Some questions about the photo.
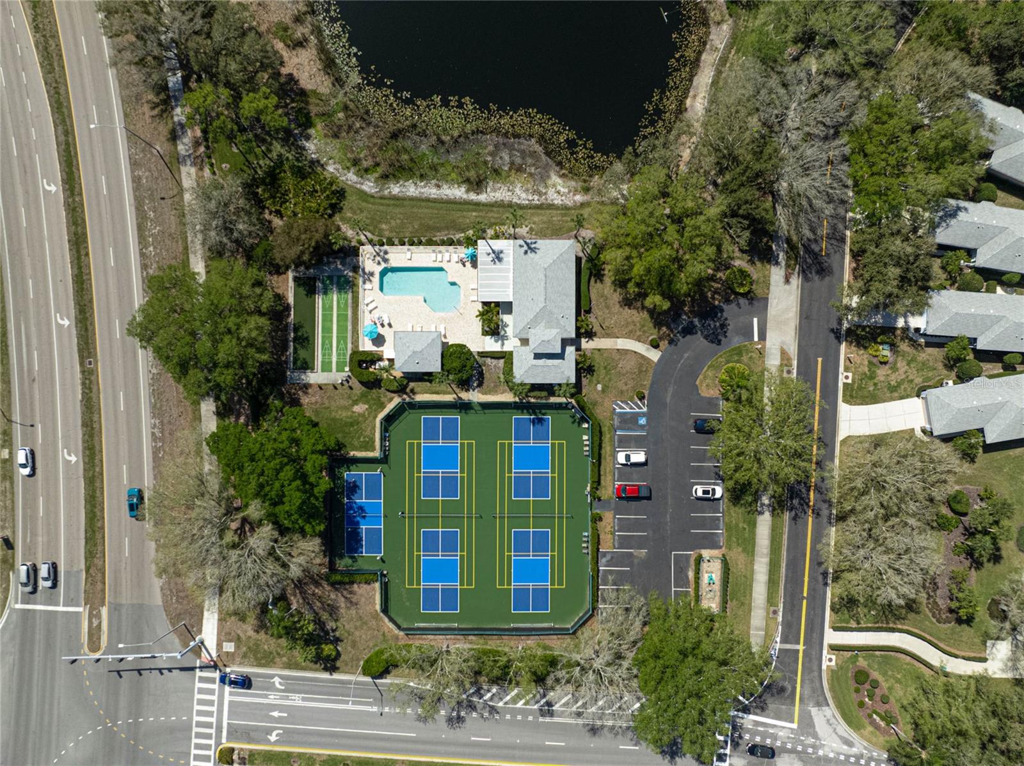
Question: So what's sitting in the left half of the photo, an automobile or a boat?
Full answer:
There is an automobile in the left half of the photo.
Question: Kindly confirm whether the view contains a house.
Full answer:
Yes, looking at the shot, I can spot a house.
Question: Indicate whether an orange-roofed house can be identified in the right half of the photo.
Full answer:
No, looking in the right half of the photo, there is no orange-roofed house.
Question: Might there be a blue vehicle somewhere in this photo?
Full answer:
Yes, you can see a blue vehicle in this photo.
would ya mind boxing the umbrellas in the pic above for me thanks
[463,247,477,262]
[363,324,378,339]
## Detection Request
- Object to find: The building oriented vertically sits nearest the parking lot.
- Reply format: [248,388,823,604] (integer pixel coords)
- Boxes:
[513,240,579,384]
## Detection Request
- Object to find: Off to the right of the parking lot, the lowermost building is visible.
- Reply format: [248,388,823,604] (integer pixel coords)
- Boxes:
[920,374,1024,440]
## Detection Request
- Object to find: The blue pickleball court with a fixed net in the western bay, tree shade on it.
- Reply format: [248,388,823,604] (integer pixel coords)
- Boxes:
[342,473,384,555]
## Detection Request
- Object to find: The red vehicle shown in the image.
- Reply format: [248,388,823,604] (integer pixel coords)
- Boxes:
[615,484,649,499]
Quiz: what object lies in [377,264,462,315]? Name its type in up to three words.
swimming pool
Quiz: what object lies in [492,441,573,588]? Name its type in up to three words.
tennis court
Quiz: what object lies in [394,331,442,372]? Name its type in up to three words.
building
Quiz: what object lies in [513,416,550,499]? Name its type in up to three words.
sports court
